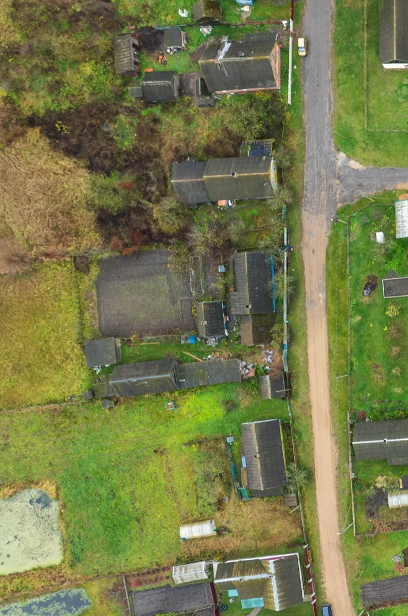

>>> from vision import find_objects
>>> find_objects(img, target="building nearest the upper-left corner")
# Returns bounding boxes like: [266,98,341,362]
[115,32,147,76]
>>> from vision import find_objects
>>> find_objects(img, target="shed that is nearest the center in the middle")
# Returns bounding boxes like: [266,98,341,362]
[198,301,228,336]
